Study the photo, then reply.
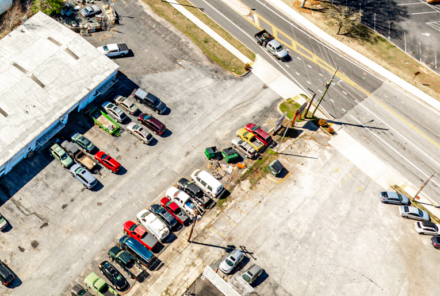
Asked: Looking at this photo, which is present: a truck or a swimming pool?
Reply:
truck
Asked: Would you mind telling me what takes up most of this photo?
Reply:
paved ground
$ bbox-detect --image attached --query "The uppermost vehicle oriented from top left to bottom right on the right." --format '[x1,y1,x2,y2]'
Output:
[252,26,290,61]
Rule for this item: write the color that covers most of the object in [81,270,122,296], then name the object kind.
green truck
